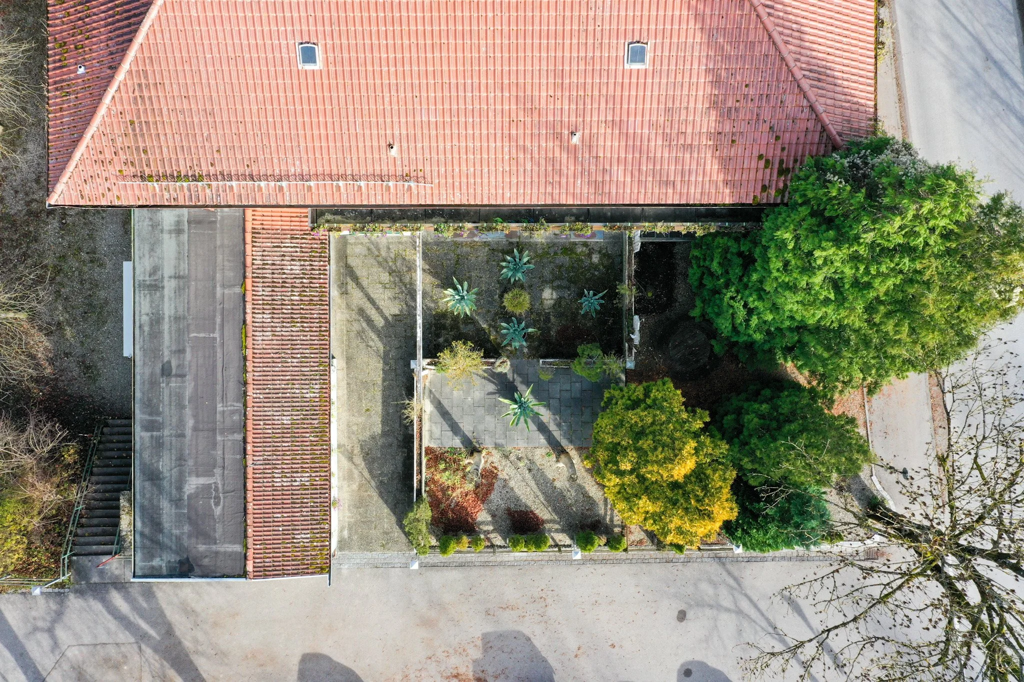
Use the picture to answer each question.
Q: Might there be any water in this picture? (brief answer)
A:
No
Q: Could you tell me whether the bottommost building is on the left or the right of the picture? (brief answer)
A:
left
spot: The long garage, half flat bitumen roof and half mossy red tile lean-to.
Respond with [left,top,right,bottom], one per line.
[130,209,341,585]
